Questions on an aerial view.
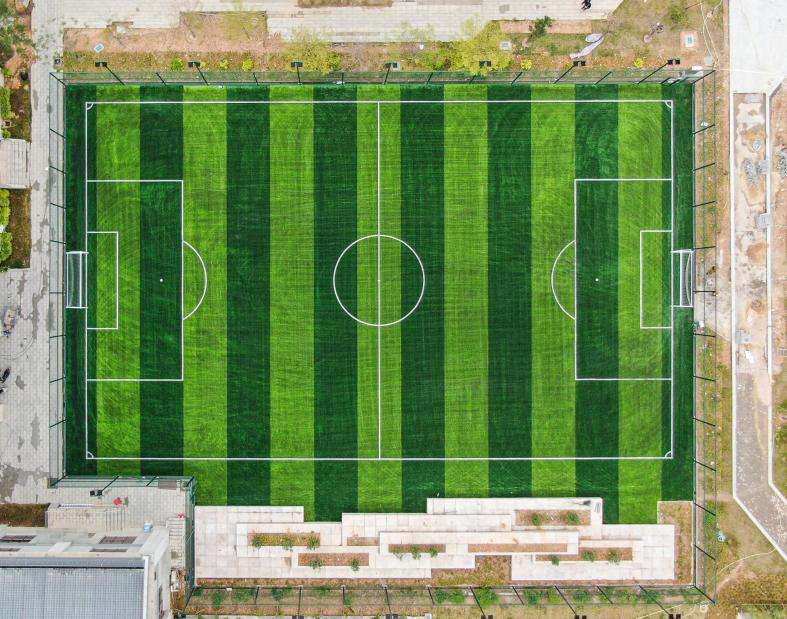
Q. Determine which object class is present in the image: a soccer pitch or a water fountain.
soccer pitch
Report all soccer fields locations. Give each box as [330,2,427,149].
[66,84,693,524]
